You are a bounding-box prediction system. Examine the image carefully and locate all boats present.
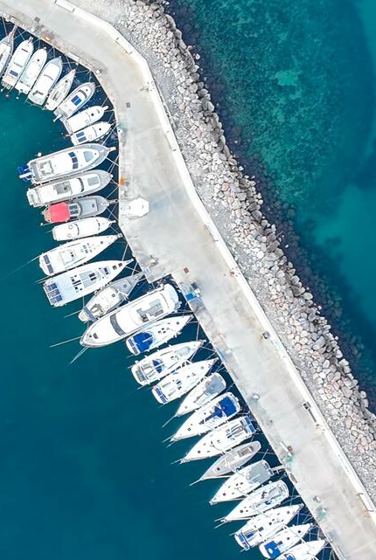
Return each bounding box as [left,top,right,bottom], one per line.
[24,47,72,112]
[161,387,249,445]
[0,26,42,92]
[41,251,143,305]
[60,100,114,137]
[16,134,118,185]
[12,39,49,100]
[50,211,123,245]
[207,470,295,532]
[193,433,272,486]
[21,160,119,209]
[44,279,184,365]
[231,494,320,552]
[68,267,150,327]
[167,371,237,422]
[43,65,77,112]
[47,83,105,127]
[66,109,117,148]
[126,333,212,382]
[119,312,199,355]
[0,20,26,80]
[256,516,330,560]
[272,532,335,560]
[35,226,127,273]
[37,191,119,226]
[209,450,279,512]
[149,347,223,402]
[177,410,256,465]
